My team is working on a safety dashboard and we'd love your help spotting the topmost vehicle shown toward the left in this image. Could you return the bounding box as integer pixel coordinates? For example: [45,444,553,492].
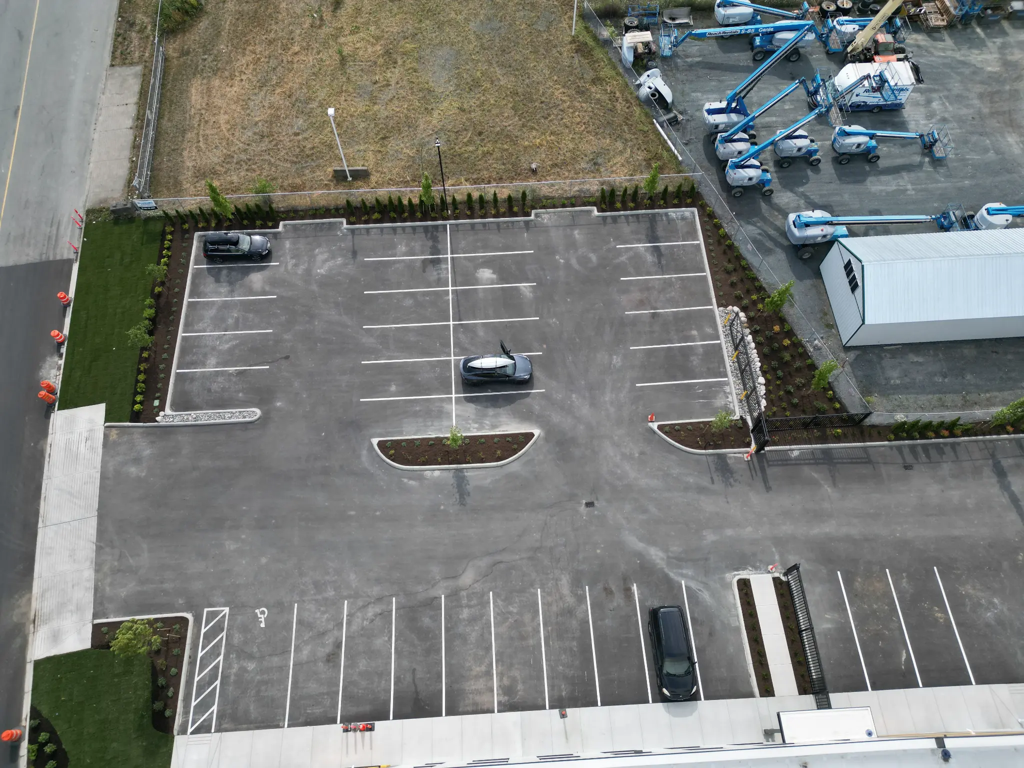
[201,229,273,264]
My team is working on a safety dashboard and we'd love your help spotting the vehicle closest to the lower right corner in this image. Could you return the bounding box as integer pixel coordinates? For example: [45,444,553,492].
[648,605,699,703]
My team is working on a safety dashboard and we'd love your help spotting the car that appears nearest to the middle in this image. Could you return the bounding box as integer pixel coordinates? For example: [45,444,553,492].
[460,337,533,388]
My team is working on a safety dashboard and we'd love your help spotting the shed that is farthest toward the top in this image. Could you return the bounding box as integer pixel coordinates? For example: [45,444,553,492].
[819,230,1024,347]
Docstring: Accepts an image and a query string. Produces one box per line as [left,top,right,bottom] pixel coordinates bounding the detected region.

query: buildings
[351,705,1024,768]
[819,230,1024,347]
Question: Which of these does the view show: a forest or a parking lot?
parking lot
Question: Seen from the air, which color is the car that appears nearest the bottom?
black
